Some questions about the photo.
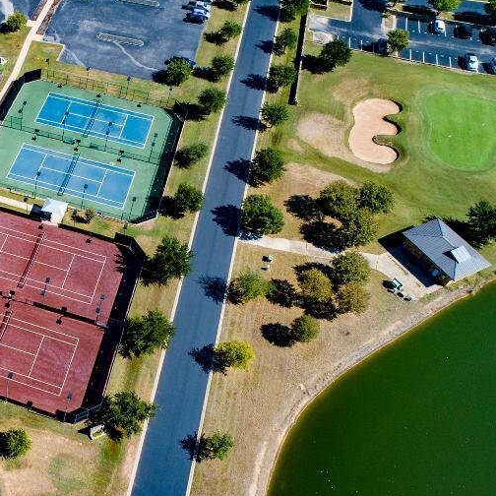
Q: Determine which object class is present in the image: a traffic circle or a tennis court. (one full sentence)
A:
The image shows a tennis court.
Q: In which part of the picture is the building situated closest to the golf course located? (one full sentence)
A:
The building situated closest to the golf course appears toward the right of the photo.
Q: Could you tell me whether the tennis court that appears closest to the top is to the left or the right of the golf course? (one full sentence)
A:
Compared with the golf course, the tennis court that appears closest to the top is located further to the left.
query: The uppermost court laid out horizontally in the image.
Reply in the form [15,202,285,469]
[1,81,184,167]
